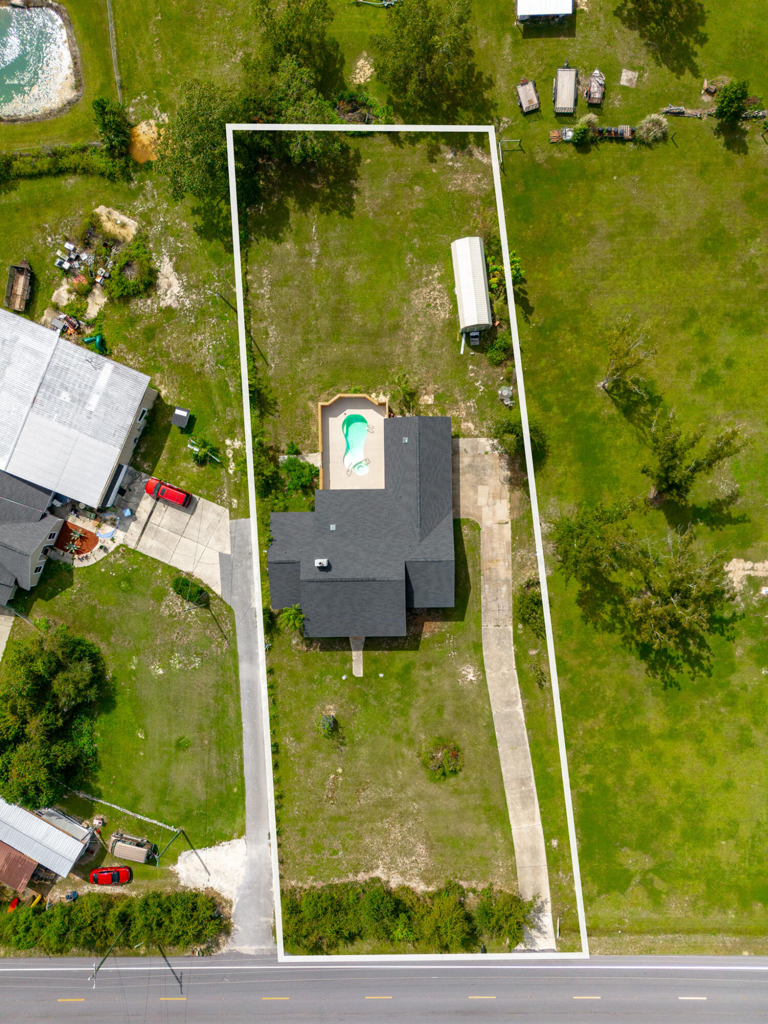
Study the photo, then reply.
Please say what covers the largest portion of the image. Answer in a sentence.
The largest share of the image is taken up by grass.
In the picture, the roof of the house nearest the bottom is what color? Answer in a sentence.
The roof over the house nearest the bottom appears white.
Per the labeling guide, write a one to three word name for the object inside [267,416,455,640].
house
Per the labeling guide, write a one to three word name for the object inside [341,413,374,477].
swimming pool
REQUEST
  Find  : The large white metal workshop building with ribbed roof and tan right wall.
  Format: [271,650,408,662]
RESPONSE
[0,313,158,508]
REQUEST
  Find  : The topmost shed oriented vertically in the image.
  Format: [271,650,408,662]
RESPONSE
[453,233,493,332]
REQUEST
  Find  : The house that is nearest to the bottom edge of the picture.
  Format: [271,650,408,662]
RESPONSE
[0,780,96,893]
